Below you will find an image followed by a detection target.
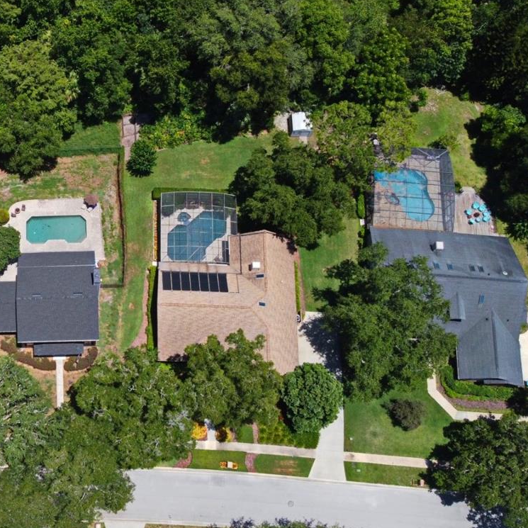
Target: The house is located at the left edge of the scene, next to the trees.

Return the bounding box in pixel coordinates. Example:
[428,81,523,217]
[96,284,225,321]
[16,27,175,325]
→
[0,251,100,359]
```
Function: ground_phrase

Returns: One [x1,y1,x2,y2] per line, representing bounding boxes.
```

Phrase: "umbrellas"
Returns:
[84,194,99,207]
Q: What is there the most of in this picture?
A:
trees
